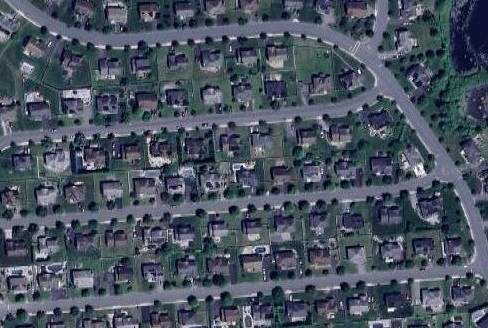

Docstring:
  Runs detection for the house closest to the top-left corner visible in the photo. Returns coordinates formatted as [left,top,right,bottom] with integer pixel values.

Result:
[0,10,22,35]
